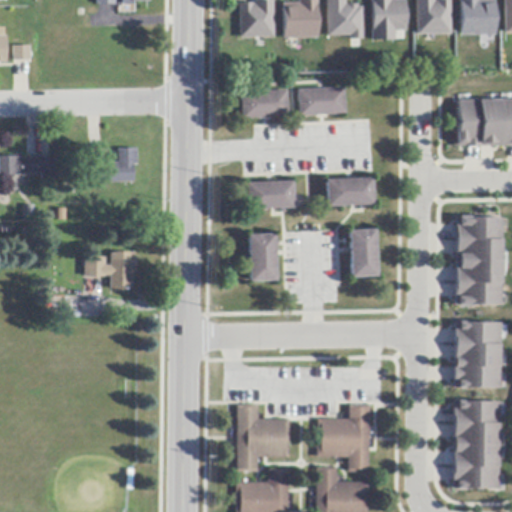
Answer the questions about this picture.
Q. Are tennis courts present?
No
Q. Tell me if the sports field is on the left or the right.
left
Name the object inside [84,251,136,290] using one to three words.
house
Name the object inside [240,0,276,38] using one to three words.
house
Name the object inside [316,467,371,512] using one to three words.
building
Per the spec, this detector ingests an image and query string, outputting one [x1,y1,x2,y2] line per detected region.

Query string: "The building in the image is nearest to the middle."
[250,234,279,282]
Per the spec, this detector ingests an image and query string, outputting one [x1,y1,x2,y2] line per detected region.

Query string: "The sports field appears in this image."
[54,454,130,512]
